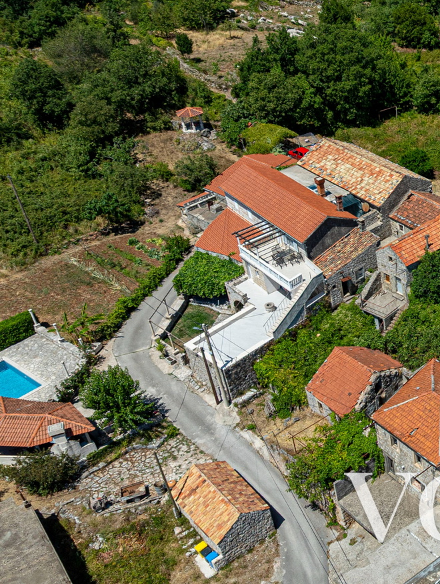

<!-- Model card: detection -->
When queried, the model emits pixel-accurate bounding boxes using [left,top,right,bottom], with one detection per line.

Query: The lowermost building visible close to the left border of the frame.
[0,500,70,584]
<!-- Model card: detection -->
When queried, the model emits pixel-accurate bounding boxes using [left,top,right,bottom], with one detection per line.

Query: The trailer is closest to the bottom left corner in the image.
[96,477,149,503]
